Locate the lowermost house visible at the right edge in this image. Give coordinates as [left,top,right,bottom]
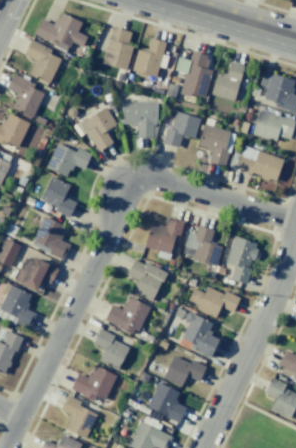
[265,378,296,422]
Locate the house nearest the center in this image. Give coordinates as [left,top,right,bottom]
[147,218,184,253]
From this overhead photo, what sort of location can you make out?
residential area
